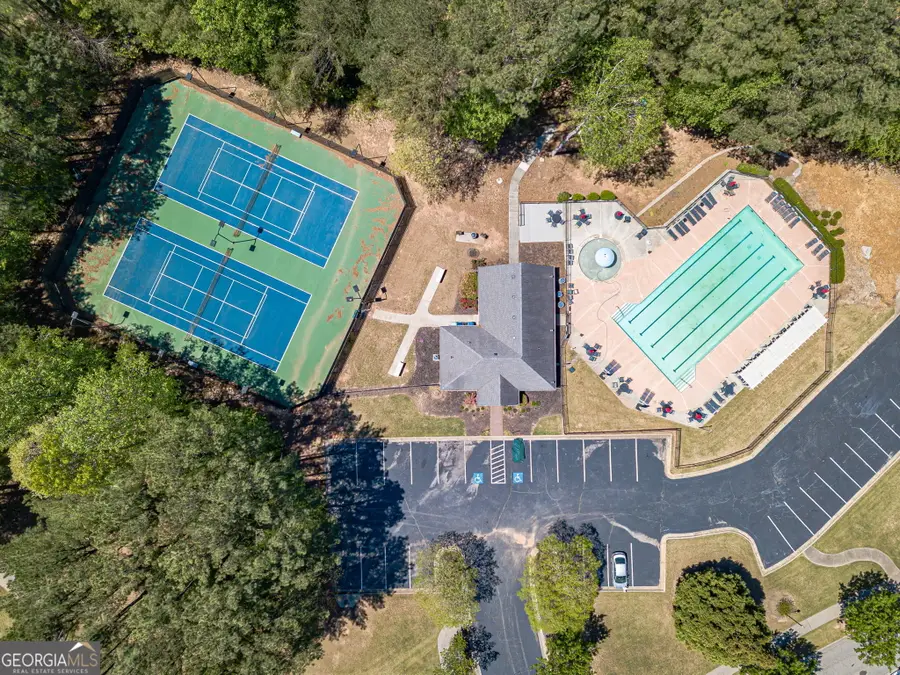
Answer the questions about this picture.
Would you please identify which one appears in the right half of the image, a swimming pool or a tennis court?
swimming pool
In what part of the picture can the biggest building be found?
center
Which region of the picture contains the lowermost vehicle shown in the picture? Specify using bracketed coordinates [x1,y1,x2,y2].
[613,552,629,588]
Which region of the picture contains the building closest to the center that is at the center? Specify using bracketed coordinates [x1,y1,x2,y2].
[439,264,555,408]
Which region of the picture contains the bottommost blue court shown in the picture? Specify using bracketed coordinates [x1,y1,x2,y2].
[105,217,311,373]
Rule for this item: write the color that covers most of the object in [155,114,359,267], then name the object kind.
blue tennis court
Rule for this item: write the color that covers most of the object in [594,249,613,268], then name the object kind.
white fountain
